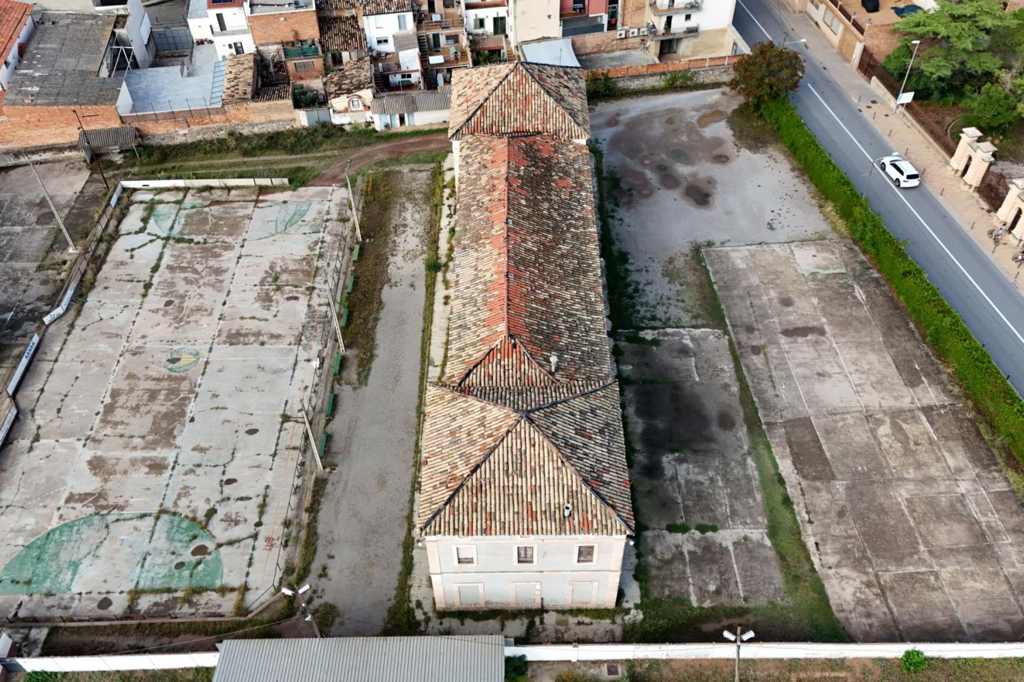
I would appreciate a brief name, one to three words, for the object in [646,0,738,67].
house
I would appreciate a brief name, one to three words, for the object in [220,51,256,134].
shed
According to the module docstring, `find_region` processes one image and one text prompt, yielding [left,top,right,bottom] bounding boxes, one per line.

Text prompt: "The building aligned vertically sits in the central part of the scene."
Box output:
[415,62,637,611]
